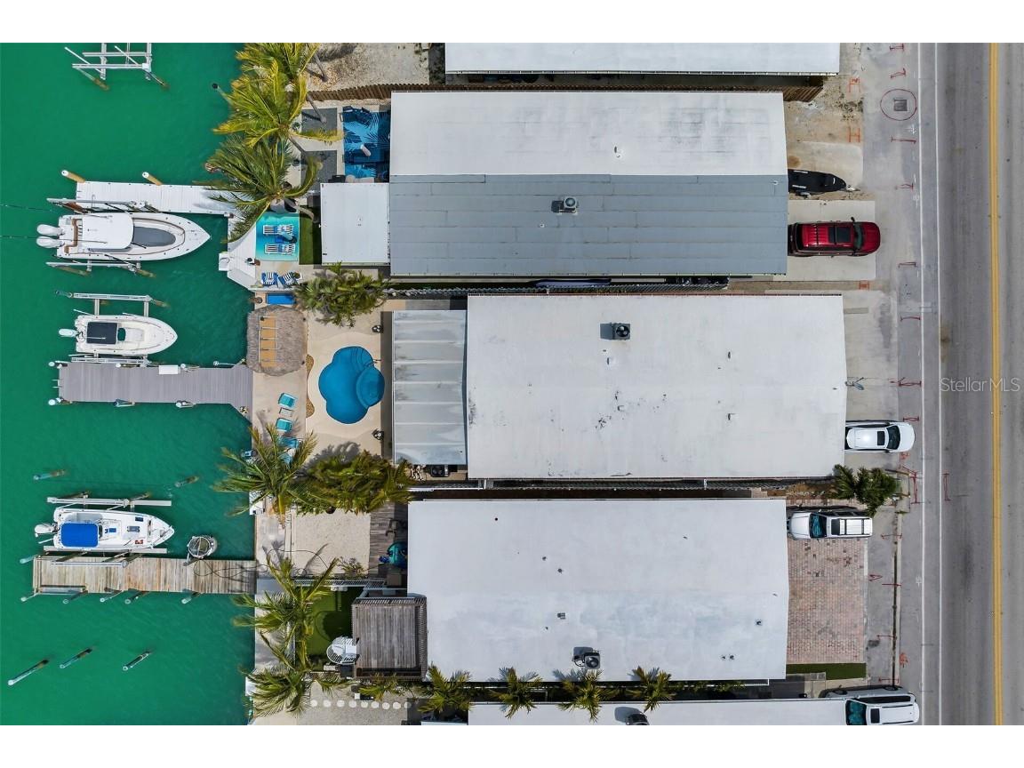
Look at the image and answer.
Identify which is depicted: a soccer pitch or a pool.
pool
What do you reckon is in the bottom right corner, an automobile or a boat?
automobile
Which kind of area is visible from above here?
residential area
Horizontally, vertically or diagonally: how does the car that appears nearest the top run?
horizontally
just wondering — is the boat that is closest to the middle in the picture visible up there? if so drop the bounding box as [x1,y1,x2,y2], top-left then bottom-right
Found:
[535,275,613,288]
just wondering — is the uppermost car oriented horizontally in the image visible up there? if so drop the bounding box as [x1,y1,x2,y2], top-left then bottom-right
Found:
[788,214,883,259]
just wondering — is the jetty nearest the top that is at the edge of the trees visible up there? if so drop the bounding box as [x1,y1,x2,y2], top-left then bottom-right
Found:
[62,170,236,215]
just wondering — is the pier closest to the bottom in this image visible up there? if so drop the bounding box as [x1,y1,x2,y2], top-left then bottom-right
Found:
[19,550,258,604]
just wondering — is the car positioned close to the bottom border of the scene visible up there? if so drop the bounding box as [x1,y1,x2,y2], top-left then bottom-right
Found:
[810,683,917,734]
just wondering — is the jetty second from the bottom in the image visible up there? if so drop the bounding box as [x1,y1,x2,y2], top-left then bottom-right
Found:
[48,354,254,420]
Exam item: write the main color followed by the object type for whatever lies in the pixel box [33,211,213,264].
white boat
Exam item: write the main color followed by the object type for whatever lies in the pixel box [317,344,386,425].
blue swimming pool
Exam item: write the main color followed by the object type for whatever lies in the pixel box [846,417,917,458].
white car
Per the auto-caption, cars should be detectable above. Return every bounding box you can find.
[846,417,917,458]
[789,506,876,548]
[788,214,883,259]
[810,683,917,734]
